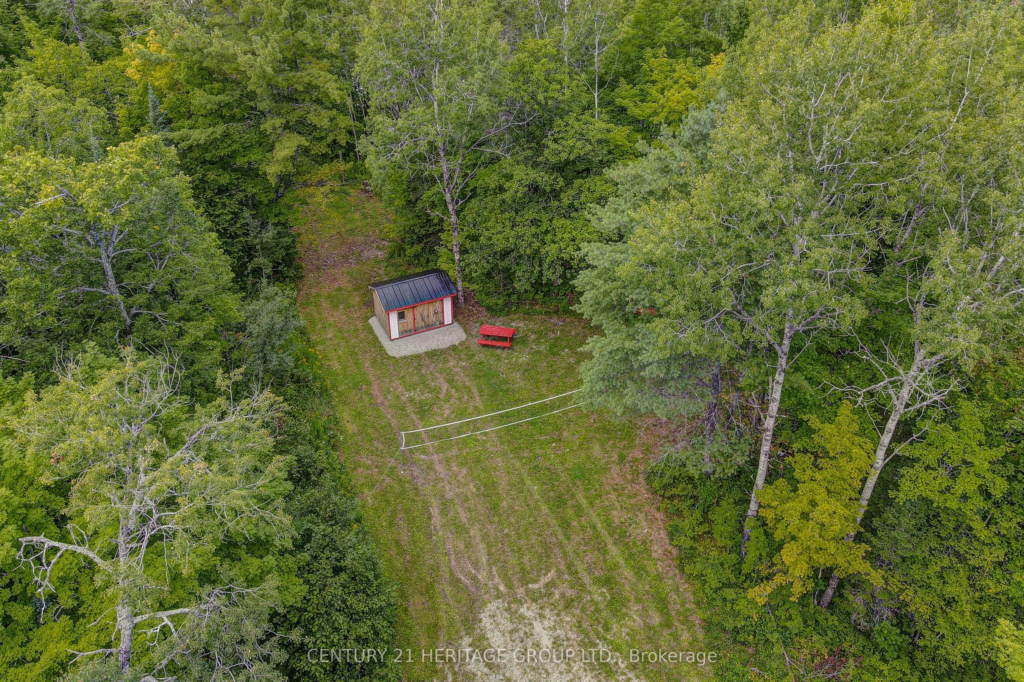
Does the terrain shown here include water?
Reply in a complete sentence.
No, no water is visible.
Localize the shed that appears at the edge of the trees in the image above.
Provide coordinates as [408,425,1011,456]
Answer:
[367,269,458,340]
